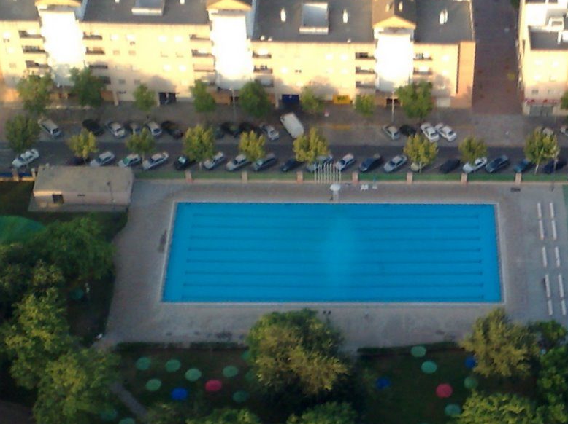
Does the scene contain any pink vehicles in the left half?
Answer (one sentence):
No, no pink vehicle can be made out in the left half.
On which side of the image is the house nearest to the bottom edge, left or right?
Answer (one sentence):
The house nearest to the bottom edge sits on the left side.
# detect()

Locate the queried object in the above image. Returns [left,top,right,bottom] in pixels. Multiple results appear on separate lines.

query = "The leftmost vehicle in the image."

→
[11,152,42,168]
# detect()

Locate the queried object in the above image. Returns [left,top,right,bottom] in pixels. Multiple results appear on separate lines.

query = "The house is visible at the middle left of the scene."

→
[29,164,135,211]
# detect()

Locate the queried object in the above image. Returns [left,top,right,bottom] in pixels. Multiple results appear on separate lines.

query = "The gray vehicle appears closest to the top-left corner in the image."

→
[39,119,63,139]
